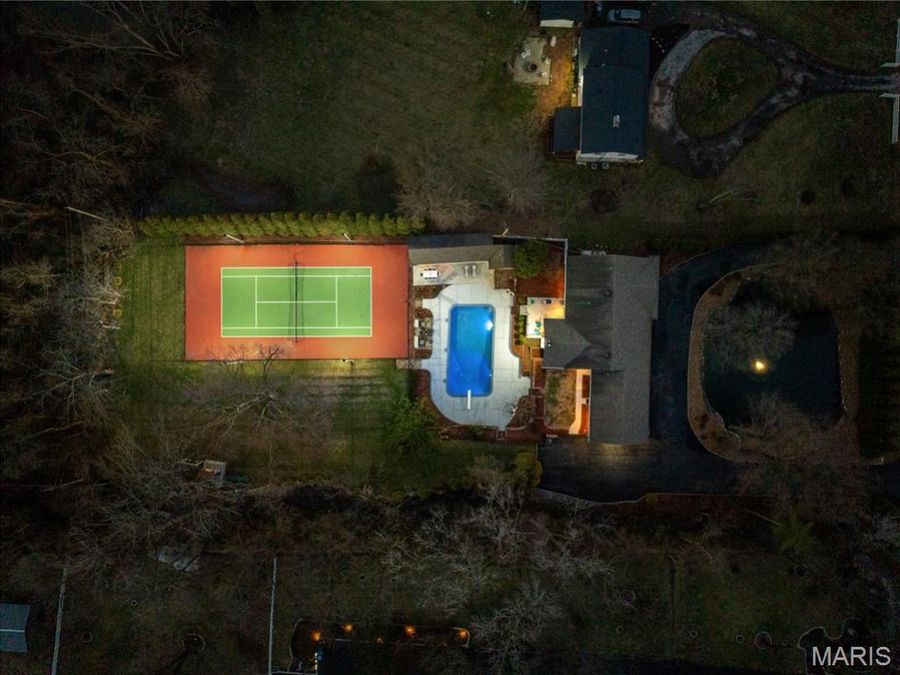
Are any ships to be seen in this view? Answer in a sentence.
No, there appears to be no ship in this shot.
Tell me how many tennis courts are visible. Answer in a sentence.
There is 1 tennis court in the image.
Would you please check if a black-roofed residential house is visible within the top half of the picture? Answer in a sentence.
Yes, a black-roofed residential house shows up within the top half of the picture.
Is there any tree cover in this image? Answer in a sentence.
Yes, there is tree cover in the image.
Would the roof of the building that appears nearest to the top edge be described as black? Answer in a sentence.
Yes, the roof of the building that appears nearest to the top edge is indeed black.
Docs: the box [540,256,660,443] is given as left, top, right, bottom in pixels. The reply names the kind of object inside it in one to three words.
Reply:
house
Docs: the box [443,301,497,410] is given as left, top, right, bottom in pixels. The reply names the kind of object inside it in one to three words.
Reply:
swimming pool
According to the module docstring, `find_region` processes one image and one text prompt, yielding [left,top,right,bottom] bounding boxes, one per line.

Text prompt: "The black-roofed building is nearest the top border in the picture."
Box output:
[540,0,584,30]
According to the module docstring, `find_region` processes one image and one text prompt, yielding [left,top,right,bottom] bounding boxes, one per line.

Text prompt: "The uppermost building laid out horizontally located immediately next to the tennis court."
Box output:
[408,233,500,267]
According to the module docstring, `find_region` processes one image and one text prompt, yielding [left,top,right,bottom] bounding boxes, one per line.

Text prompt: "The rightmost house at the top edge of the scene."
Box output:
[577,25,650,163]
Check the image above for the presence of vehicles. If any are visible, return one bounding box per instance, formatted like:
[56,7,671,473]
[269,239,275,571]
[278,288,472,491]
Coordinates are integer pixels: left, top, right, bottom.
[610,5,642,21]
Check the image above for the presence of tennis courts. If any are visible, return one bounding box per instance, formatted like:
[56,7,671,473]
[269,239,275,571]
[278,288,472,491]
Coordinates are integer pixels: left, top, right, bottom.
[185,244,409,360]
